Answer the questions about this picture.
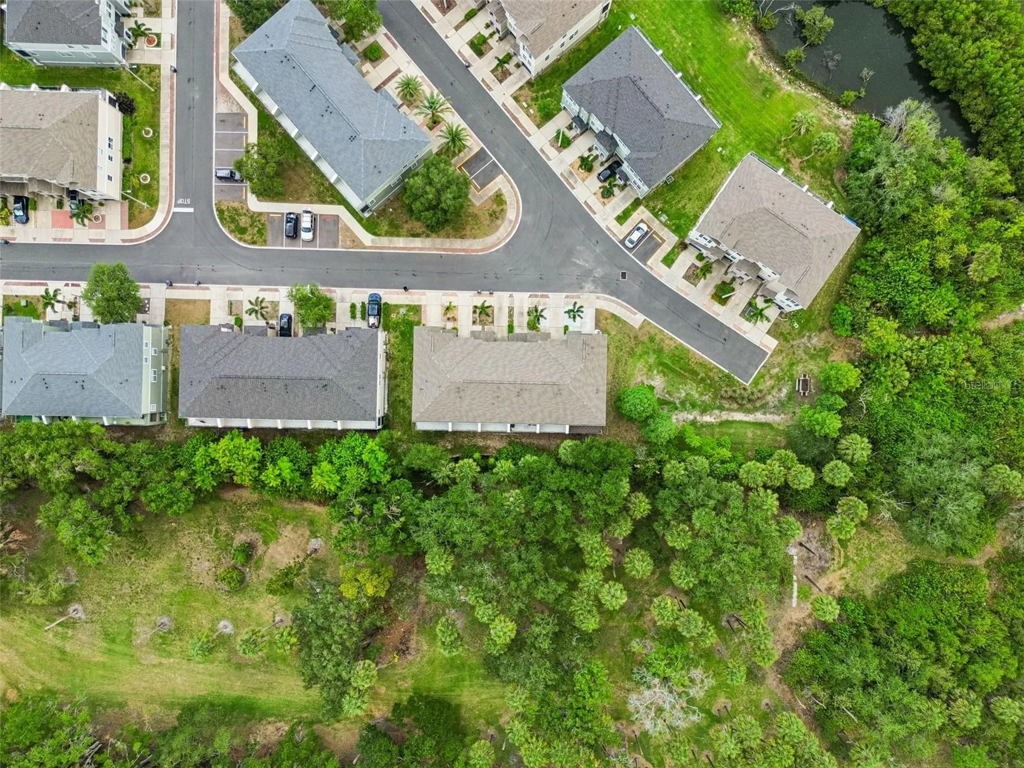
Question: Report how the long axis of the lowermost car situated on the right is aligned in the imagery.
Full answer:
The lowermost car situated on the right is laid out at an angle.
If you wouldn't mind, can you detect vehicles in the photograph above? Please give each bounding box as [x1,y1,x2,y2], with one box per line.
[278,308,294,337]
[366,293,382,330]
[623,222,650,250]
[214,168,236,183]
[283,210,299,242]
[14,199,31,225]
[594,157,620,183]
[299,207,316,242]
